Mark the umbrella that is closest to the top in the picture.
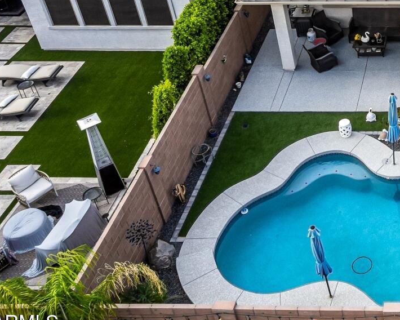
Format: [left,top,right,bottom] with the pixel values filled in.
[383,92,400,165]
